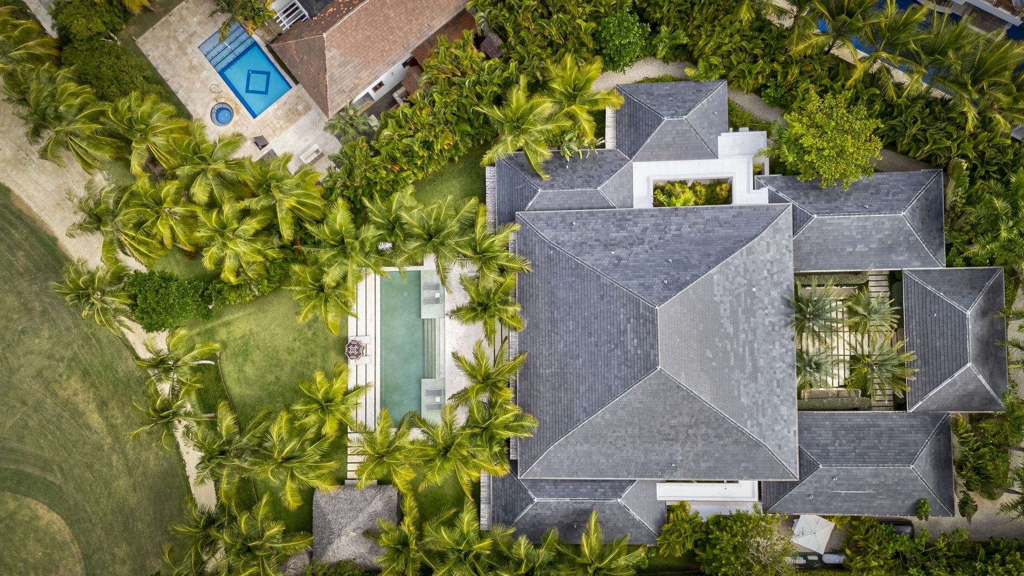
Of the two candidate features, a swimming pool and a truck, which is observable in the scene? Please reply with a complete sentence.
The one in the frame is a swimming pool.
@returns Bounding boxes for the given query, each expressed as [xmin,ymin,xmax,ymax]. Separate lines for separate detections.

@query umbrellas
[345,341,363,359]
[791,515,835,554]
